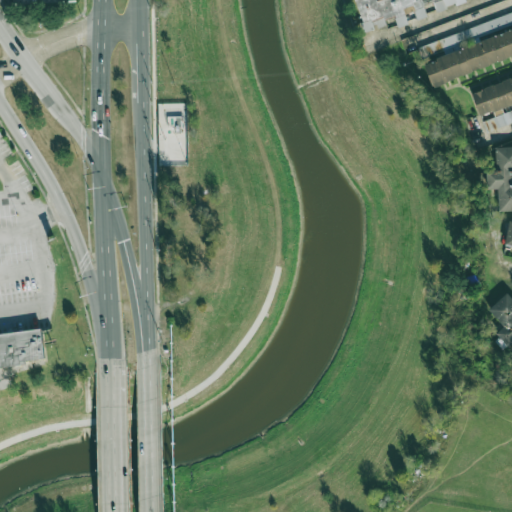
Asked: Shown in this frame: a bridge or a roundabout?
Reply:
bridge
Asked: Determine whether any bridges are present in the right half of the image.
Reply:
No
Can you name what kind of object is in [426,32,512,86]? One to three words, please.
building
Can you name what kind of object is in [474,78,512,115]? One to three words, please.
building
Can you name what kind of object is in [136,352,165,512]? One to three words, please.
bridge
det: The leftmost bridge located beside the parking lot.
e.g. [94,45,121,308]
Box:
[96,364,130,512]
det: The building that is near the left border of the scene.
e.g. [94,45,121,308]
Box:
[0,329,45,370]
